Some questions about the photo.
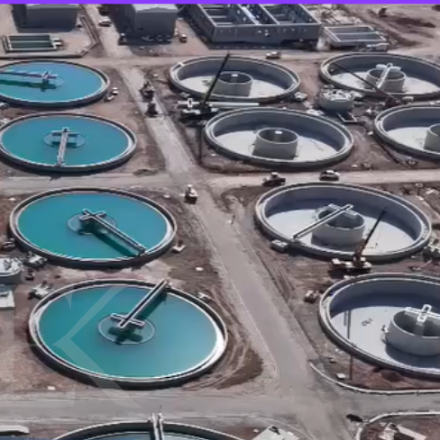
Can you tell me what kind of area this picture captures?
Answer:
industrial area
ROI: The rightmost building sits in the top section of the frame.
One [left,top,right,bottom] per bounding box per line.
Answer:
[124,0,181,39]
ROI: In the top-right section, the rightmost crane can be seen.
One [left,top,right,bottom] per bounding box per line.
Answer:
[332,60,410,108]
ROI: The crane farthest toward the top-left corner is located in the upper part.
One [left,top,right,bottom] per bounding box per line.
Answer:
[186,55,229,113]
